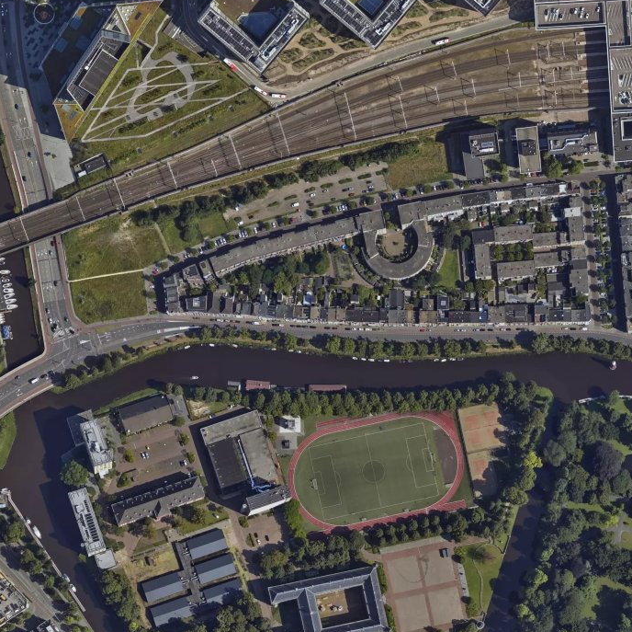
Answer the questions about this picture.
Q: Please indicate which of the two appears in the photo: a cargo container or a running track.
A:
running track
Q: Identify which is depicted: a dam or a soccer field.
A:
soccer field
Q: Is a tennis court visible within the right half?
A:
Yes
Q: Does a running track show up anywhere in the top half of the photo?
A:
No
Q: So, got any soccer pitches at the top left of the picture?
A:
No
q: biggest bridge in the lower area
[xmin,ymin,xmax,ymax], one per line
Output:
[6,350,55,409]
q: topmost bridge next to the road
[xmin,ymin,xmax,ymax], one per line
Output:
[0,23,610,257]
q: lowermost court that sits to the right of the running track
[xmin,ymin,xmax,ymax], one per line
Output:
[468,447,501,481]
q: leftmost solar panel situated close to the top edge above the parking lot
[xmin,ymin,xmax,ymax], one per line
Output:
[205,11,255,59]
